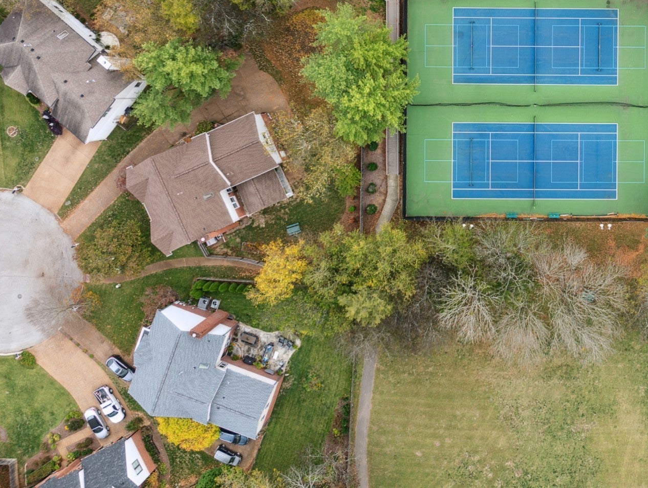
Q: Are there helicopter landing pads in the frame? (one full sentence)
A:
No, there isn't any helicopter landing pad down there.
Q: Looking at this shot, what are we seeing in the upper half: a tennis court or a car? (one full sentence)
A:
You can see a tennis court in the upper half.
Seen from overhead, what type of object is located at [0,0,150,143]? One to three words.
house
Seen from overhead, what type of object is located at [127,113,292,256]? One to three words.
house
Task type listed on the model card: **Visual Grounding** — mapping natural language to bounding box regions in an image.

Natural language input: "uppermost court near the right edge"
[406,0,648,105]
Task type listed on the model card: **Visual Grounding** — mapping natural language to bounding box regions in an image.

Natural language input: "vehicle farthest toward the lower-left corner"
[84,406,111,440]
